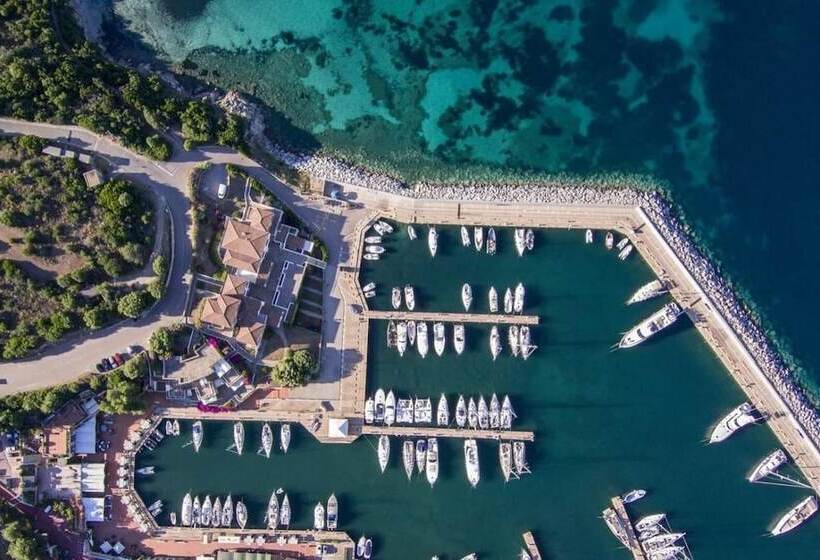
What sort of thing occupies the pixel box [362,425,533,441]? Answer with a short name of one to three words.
pier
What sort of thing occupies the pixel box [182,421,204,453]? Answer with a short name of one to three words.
boat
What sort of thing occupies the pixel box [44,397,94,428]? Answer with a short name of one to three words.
building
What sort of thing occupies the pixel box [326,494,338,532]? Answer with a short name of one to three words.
boat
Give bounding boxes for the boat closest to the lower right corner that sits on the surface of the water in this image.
[774,493,819,537]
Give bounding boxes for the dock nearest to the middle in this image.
[368,311,539,324]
